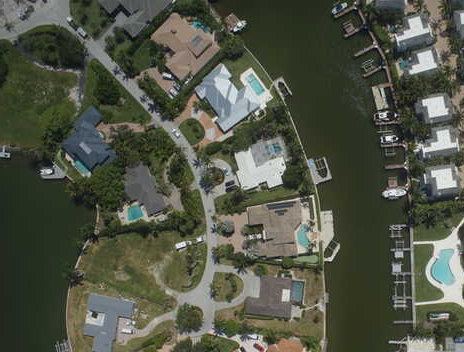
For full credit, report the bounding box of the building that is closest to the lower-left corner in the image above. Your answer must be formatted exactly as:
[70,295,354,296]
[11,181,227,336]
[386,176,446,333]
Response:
[84,294,136,352]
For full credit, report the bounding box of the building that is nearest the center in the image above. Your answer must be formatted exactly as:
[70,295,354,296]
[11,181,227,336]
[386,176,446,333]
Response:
[234,148,284,190]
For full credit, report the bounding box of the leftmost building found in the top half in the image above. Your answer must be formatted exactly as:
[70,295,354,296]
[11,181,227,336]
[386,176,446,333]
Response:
[62,109,114,170]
